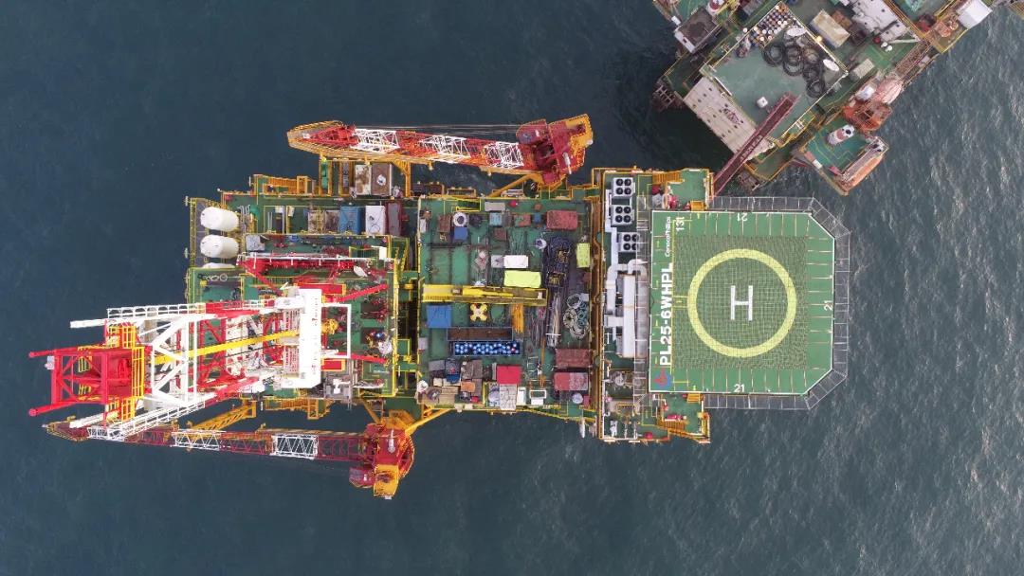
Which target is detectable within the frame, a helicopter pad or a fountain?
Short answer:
helicopter pad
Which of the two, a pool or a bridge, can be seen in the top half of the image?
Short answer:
bridge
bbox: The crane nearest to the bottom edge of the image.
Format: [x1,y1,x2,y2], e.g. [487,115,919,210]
[35,398,450,501]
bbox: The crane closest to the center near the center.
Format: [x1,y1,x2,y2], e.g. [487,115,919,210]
[422,287,548,304]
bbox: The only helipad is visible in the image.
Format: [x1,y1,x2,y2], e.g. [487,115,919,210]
[634,195,850,410]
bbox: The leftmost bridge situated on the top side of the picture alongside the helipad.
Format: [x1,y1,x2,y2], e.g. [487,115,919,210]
[702,87,806,200]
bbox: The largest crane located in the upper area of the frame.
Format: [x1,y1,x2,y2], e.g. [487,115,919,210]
[283,111,594,199]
